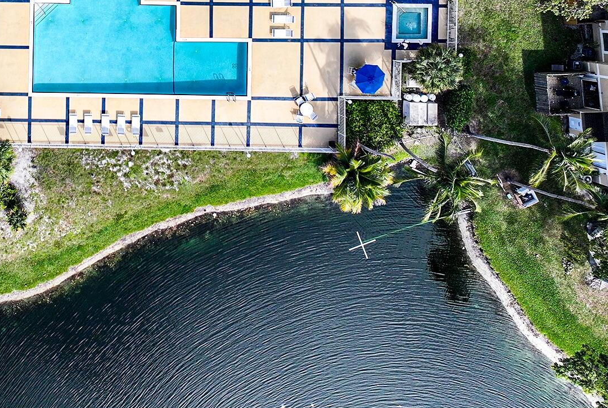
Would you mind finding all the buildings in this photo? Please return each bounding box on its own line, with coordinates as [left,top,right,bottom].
[397,99,436,125]
[578,59,608,198]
